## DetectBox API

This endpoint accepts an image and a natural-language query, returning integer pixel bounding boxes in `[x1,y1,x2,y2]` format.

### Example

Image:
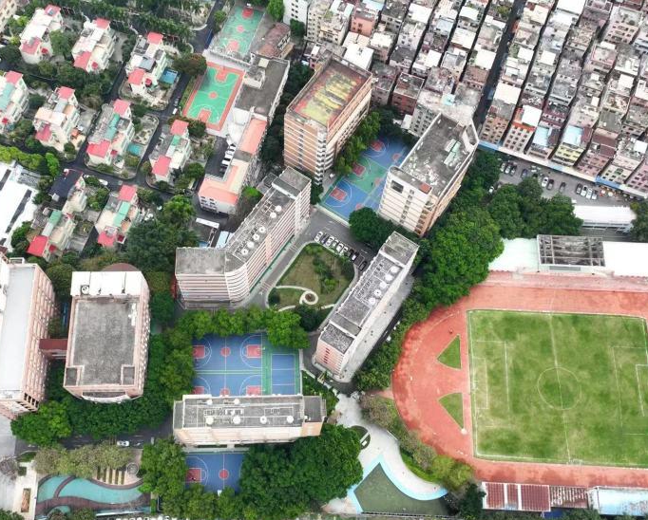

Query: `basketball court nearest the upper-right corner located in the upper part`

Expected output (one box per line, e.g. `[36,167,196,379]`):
[314,121,418,228]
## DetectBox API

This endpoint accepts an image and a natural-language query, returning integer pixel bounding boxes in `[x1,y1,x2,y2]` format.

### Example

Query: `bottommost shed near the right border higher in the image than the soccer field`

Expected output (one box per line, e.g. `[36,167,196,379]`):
[573,205,635,233]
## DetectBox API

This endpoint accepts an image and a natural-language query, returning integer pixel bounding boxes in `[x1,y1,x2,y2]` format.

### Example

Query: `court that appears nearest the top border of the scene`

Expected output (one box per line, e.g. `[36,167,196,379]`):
[209,4,262,57]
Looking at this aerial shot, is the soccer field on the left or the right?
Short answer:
right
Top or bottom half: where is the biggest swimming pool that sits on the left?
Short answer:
bottom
